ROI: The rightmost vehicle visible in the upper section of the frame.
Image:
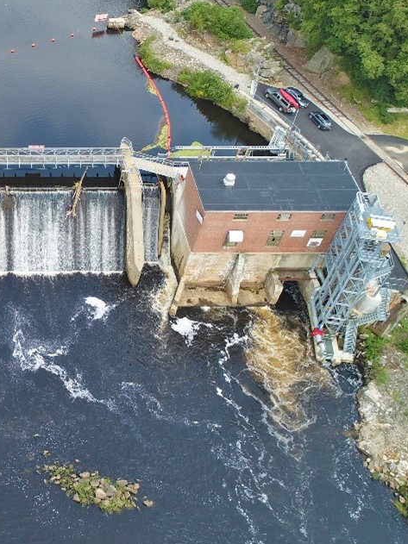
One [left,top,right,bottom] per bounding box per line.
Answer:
[307,107,339,130]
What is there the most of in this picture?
water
